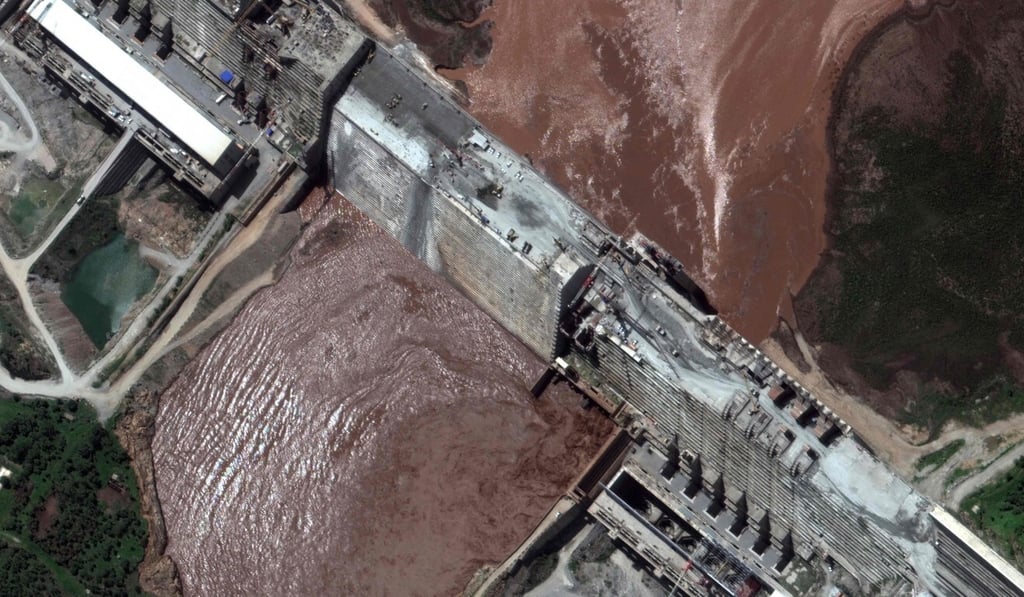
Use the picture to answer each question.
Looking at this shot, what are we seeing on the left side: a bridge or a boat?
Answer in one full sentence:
There is a bridge on the left side.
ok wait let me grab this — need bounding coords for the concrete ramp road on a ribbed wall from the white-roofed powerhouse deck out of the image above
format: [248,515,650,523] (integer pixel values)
[80,127,140,202]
